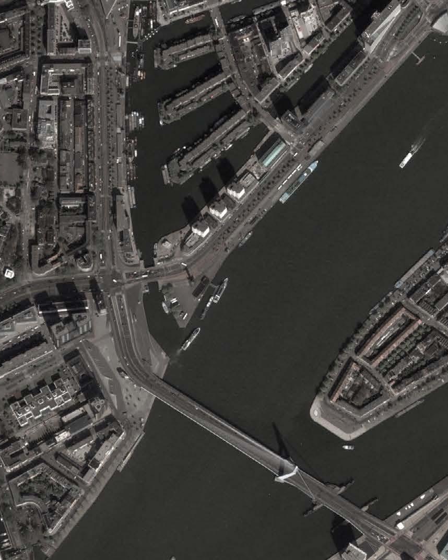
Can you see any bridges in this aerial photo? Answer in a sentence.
Yes, there's a bridge down there.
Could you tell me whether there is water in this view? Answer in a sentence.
Yes, the picture does contain water.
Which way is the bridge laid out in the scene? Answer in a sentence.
The bridge is oriented on a diagonal.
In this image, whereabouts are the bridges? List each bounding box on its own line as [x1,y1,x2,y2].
[109,289,398,546]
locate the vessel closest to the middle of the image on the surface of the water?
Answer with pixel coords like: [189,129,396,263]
[213,278,228,303]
